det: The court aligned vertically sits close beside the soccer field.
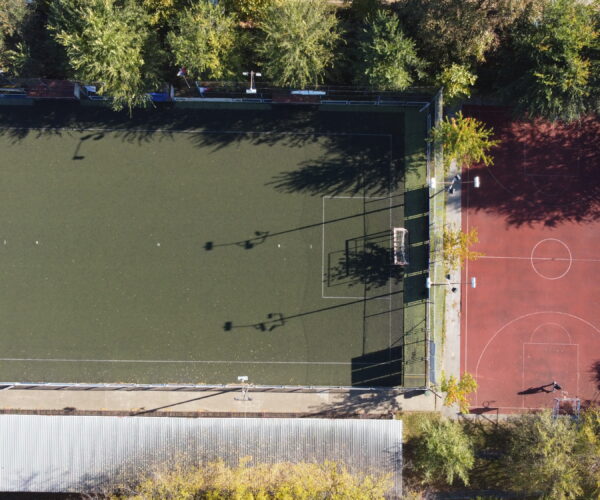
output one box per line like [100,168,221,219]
[461,106,600,414]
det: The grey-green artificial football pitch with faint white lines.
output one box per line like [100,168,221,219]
[0,103,430,385]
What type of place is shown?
sports ground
